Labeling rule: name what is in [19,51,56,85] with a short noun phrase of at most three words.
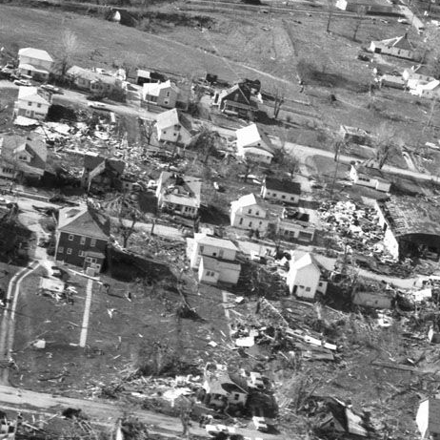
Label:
house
